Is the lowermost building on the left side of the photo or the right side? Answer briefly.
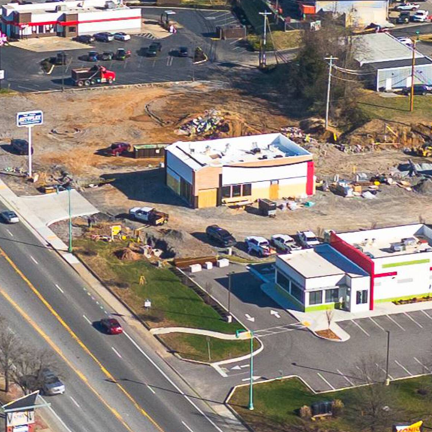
right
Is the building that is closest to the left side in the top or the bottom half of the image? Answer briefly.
top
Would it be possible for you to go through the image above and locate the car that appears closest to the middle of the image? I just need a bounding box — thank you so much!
[208,222,234,242]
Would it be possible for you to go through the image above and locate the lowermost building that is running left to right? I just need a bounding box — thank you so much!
[273,224,432,311]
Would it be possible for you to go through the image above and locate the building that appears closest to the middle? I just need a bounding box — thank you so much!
[161,132,315,208]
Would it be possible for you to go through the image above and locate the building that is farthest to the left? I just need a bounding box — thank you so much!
[2,0,140,40]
